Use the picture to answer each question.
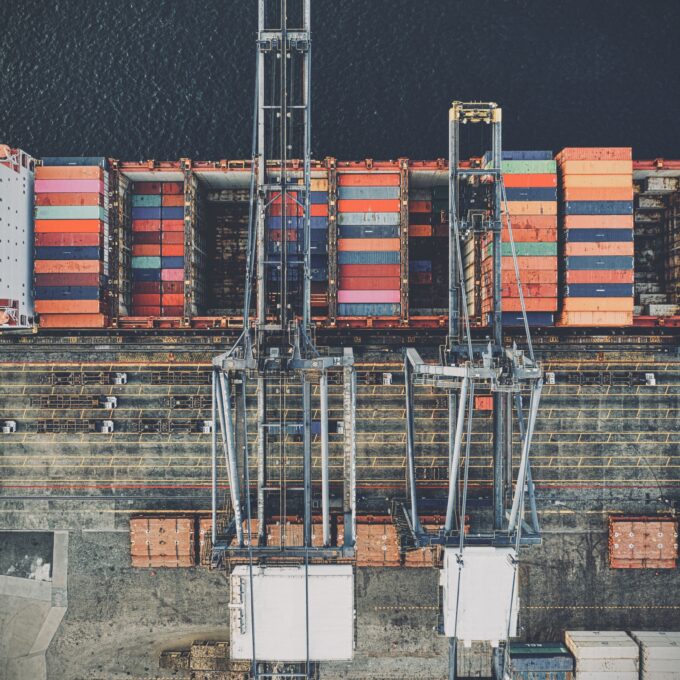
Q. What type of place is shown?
port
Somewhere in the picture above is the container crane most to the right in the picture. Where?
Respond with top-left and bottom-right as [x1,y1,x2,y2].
[386,96,545,680]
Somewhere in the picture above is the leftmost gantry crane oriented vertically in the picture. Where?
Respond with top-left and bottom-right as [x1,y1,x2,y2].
[193,0,367,680]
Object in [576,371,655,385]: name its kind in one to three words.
vehicle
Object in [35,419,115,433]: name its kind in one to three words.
vehicle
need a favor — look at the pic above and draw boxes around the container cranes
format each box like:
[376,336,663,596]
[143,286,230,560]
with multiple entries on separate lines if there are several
[386,96,545,680]
[193,0,367,680]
